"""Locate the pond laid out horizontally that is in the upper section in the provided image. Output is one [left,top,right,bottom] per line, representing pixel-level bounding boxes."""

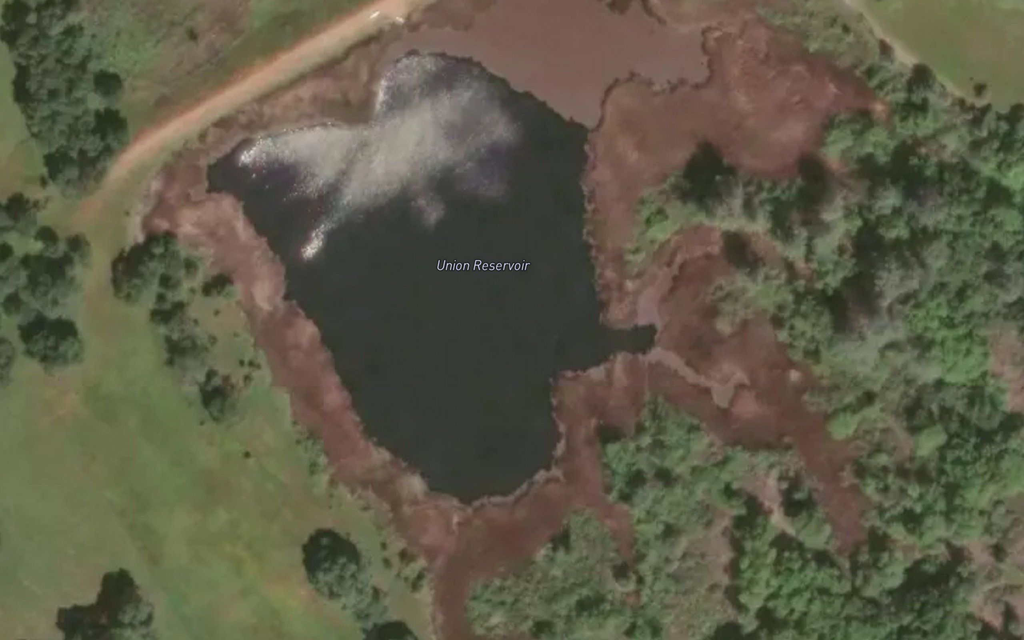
[381,0,710,133]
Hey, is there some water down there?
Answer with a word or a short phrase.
Yes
